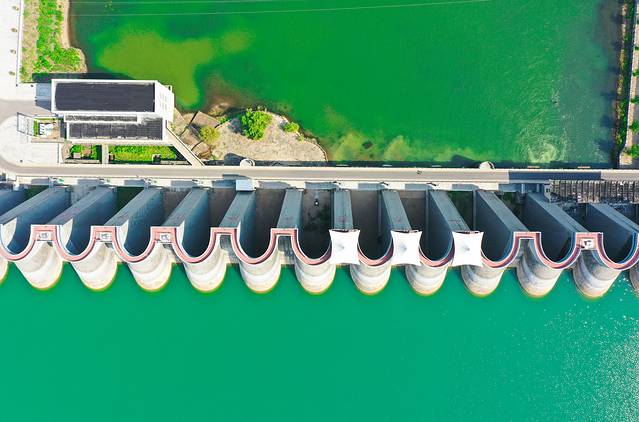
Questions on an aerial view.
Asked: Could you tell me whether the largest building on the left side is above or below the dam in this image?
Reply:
above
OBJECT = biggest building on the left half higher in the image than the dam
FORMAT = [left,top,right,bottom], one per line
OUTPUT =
[52,80,173,140]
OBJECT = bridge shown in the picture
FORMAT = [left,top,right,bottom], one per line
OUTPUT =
[56,156,639,185]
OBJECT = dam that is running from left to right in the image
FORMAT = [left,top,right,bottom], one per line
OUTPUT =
[0,185,639,297]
